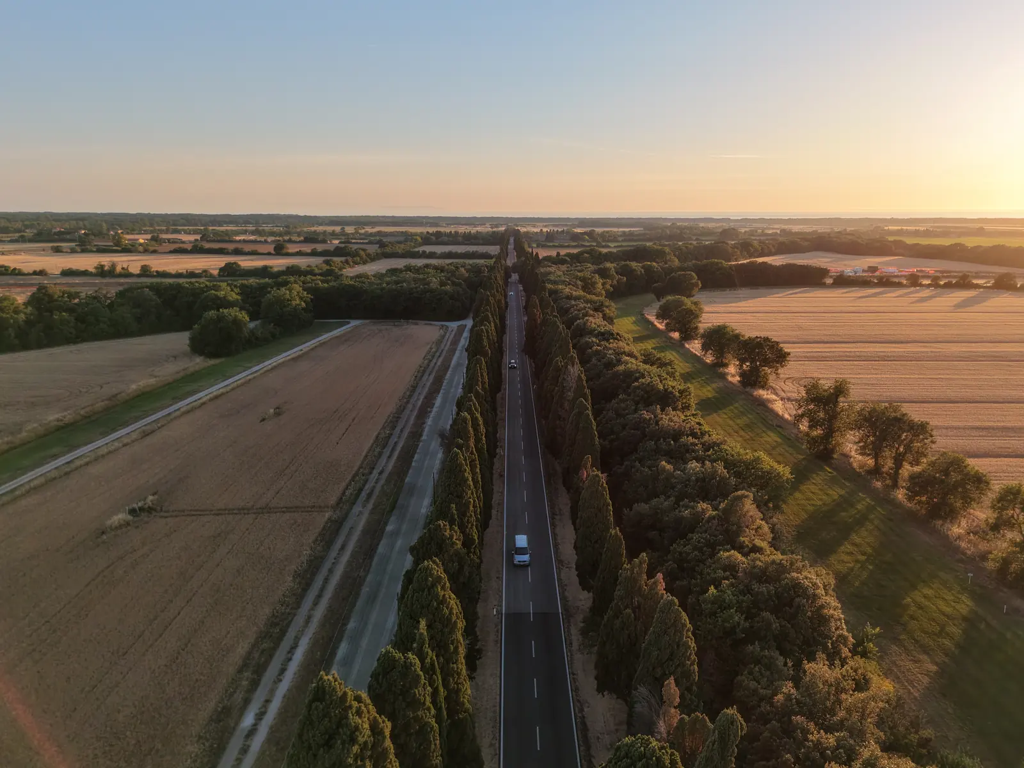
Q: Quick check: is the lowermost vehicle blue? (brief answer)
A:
Yes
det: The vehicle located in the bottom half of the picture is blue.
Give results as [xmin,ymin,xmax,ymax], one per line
[512,535,532,564]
